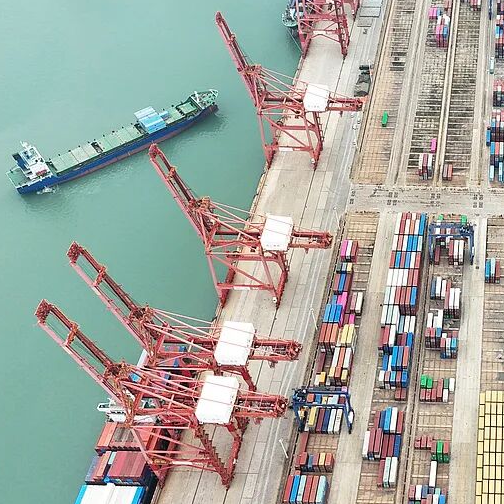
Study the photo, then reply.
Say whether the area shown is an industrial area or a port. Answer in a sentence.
This image shows a port.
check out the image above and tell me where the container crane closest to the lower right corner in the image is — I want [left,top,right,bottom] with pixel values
[289,386,353,432]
